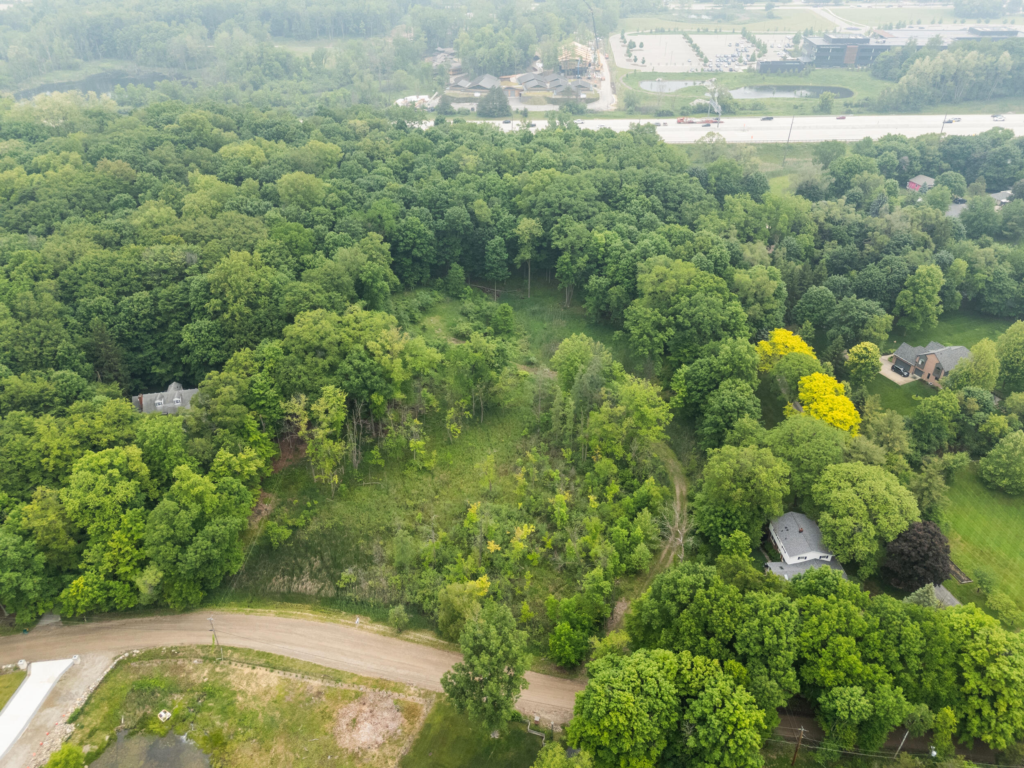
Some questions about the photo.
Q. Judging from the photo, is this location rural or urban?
rural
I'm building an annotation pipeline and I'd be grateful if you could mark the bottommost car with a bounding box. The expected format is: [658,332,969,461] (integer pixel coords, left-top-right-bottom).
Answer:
[891,365,911,378]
